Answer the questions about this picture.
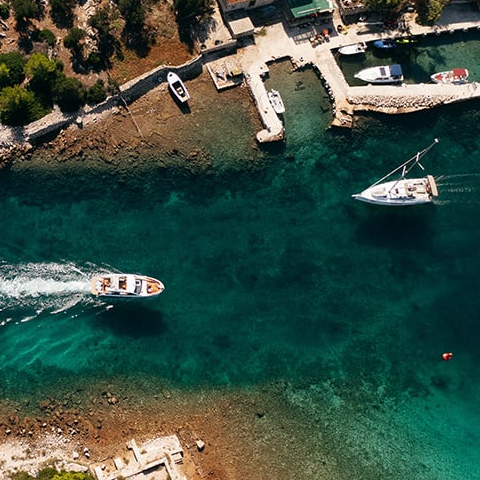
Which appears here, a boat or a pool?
boat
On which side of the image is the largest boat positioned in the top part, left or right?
right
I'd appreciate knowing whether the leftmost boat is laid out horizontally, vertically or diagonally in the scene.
horizontally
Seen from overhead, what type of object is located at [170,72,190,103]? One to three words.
boat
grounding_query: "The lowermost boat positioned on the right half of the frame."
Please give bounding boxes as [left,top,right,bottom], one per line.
[354,141,445,206]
